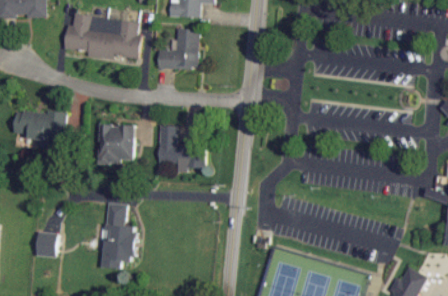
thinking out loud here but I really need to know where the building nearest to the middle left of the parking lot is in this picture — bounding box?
[159,126,206,174]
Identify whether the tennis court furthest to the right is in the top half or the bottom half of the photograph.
bottom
